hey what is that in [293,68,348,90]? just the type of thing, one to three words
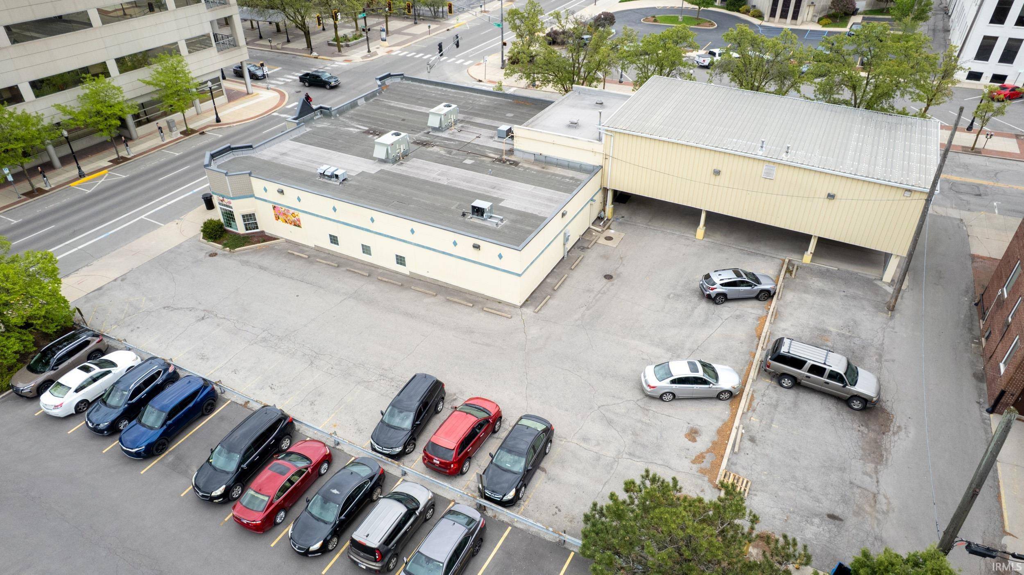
truck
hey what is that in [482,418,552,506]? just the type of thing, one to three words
car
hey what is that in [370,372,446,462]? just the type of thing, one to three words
car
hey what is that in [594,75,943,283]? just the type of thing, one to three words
building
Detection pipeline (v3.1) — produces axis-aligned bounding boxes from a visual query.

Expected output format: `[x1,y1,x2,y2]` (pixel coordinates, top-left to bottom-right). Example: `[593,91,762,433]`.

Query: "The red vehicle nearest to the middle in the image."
[423,400,502,481]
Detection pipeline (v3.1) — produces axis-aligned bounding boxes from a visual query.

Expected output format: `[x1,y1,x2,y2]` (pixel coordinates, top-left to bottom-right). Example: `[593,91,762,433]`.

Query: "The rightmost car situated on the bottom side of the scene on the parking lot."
[769,336,889,412]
